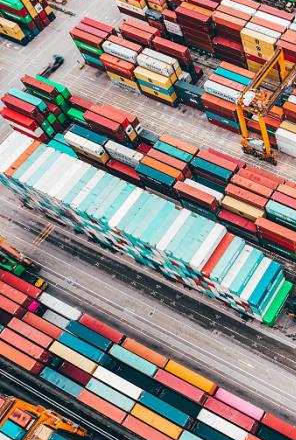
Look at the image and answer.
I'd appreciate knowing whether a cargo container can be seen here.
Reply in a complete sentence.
Yes, I can see a cargo container in this picture.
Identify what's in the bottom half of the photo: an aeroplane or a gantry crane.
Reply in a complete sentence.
The one visible in the bottom half of the photo is a gantry crane.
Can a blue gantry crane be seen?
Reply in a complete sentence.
No, I can't see a single blue gantry crane in this photo.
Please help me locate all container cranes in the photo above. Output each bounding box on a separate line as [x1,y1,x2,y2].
[0,389,98,440]
[231,45,296,165]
